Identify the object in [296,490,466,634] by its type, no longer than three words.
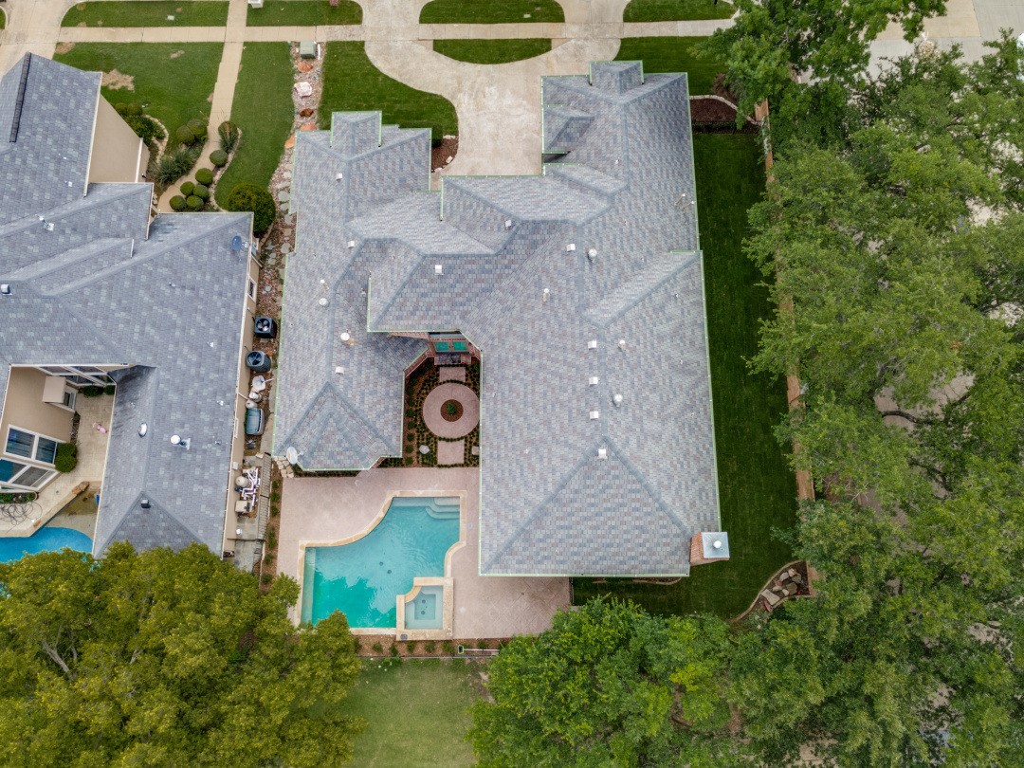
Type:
swimming pool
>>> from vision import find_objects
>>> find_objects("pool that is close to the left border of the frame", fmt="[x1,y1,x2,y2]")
[0,526,91,594]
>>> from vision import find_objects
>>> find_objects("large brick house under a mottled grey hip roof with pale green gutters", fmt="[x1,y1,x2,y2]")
[270,60,729,577]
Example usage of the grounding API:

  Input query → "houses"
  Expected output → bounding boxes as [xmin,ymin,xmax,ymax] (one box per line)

[0,52,264,569]
[270,60,729,577]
